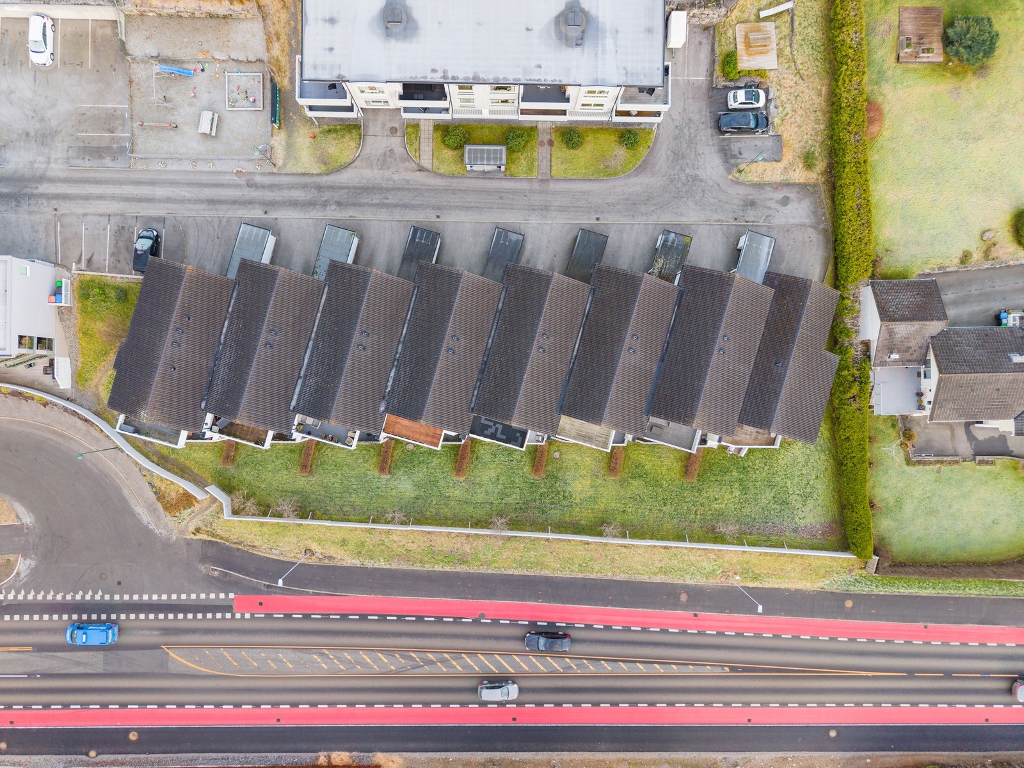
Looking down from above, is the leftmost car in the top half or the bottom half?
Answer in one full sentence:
Seen from above, the leftmost car lies in the top half of the view.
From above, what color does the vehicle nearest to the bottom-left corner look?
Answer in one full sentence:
From above, the vehicle nearest to the bottom-left corner appears blue.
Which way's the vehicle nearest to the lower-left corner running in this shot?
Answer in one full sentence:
What the image shows is the vehicle nearest to the lower-left corner lying from side to side.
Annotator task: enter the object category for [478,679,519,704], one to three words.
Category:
car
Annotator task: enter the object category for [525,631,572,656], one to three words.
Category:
car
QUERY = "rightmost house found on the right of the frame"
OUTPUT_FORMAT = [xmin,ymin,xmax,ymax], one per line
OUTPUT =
[849,277,1024,435]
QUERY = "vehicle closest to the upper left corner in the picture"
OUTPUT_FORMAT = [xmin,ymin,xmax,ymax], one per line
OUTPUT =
[28,16,59,68]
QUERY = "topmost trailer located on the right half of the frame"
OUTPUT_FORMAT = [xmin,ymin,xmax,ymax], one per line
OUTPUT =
[665,11,687,66]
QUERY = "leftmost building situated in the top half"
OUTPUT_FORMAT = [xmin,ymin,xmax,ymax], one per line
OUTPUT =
[0,255,70,357]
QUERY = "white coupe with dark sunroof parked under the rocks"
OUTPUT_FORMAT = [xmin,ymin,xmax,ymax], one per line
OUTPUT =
[724,86,765,110]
